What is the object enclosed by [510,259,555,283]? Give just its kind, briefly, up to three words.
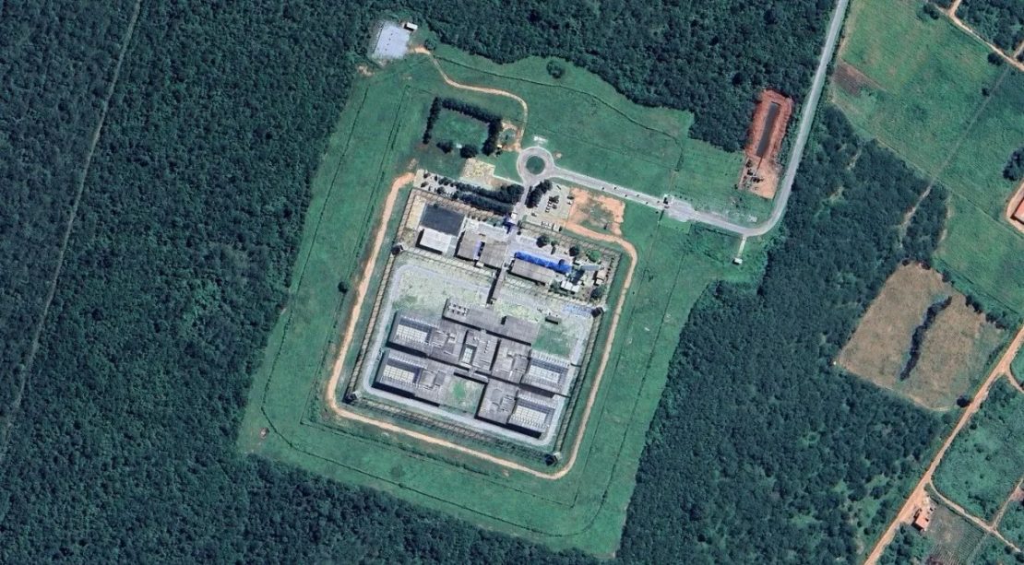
building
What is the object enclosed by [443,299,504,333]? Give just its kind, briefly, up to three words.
building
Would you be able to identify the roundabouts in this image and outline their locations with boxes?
[517,147,554,182]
